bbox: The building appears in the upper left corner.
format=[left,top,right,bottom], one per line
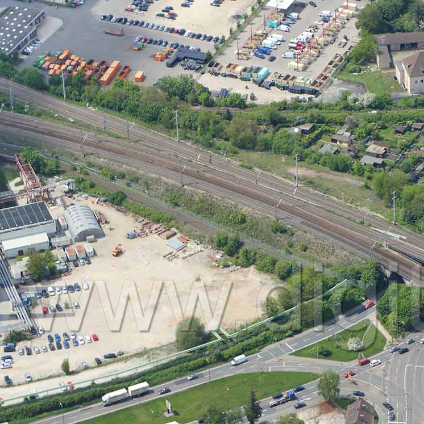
[0,5,47,54]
